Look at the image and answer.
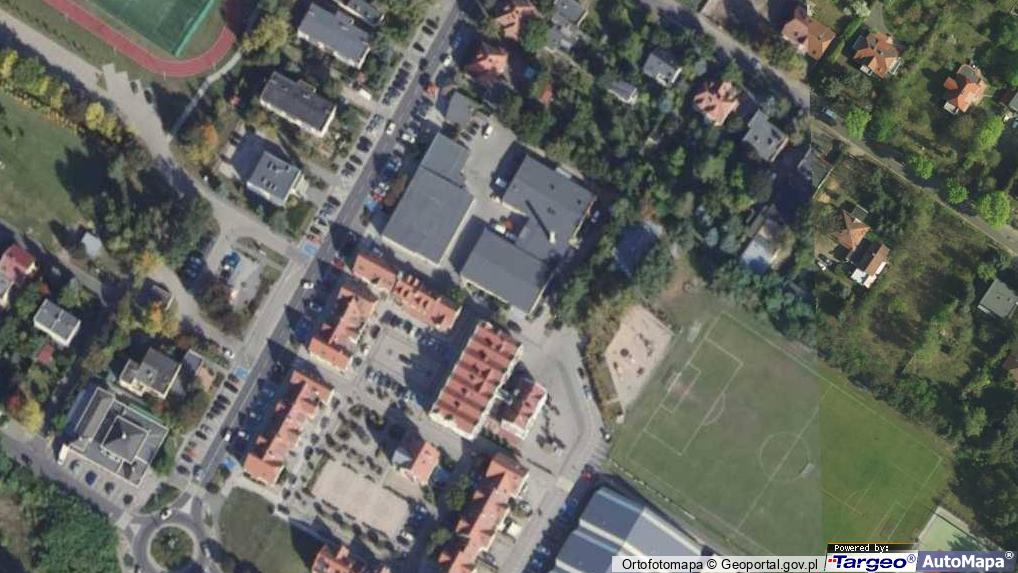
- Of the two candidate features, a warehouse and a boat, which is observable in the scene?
warehouse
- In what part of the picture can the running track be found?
top left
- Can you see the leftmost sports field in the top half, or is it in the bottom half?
top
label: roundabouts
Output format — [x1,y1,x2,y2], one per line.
[131,498,211,573]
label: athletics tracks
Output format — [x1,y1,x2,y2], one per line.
[44,0,258,78]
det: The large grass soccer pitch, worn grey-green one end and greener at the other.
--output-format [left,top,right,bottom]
[606,297,955,573]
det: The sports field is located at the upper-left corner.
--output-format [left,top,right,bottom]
[81,0,213,55]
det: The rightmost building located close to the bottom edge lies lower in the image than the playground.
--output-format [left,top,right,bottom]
[550,487,705,573]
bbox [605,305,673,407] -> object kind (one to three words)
playground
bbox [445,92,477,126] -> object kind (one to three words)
building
